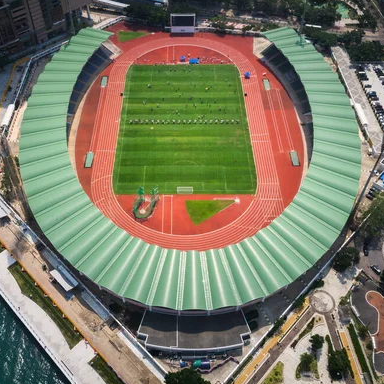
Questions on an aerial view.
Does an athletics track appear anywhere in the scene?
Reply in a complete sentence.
Yes, the photo shows an athletics track.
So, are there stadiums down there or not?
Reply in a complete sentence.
Yes, the picture does show a stadium.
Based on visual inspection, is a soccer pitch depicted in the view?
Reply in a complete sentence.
Yes, the image includes a soccer pitch.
